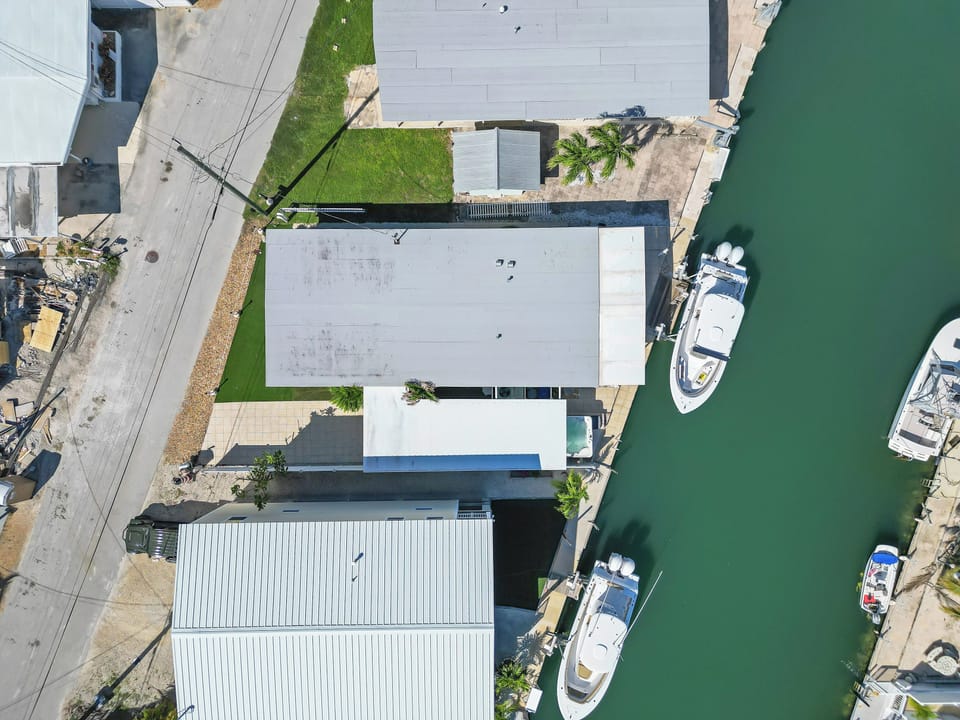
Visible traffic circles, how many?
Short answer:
0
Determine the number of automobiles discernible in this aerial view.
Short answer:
1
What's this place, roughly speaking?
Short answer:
residential area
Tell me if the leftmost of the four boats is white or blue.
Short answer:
white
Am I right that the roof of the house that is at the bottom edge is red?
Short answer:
No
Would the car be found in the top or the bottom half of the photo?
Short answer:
bottom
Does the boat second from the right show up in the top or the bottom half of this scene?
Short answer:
bottom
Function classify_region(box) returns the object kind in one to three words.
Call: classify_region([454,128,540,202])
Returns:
shed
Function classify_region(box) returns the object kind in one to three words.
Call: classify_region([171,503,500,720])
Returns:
house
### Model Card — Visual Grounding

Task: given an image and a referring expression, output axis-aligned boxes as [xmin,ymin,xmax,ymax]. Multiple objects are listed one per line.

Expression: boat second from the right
[857,541,899,622]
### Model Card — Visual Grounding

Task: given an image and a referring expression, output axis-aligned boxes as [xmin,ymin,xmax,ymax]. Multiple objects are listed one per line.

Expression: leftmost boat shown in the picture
[560,542,662,720]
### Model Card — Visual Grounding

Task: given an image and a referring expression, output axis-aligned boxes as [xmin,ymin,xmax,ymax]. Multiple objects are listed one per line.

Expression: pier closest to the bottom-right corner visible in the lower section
[843,672,907,720]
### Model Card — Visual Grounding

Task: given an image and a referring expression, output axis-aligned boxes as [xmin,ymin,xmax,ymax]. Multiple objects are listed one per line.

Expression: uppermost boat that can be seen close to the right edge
[885,311,960,468]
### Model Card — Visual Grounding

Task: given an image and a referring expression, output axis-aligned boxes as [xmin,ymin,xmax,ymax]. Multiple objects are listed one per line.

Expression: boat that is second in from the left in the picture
[668,234,748,413]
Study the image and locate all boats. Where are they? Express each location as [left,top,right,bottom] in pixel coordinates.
[857,541,899,622]
[885,311,960,468]
[668,234,748,413]
[560,542,662,720]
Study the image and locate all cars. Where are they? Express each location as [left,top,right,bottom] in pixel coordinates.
[125,513,213,565]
